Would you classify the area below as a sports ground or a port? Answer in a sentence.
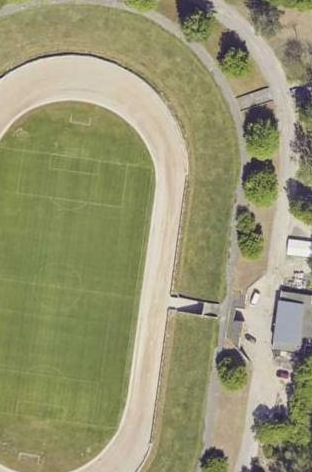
What you see here is a sports ground.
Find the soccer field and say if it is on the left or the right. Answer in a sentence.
It is on the left.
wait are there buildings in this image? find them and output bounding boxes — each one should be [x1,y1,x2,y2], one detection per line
[271,290,312,362]
[286,237,312,257]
